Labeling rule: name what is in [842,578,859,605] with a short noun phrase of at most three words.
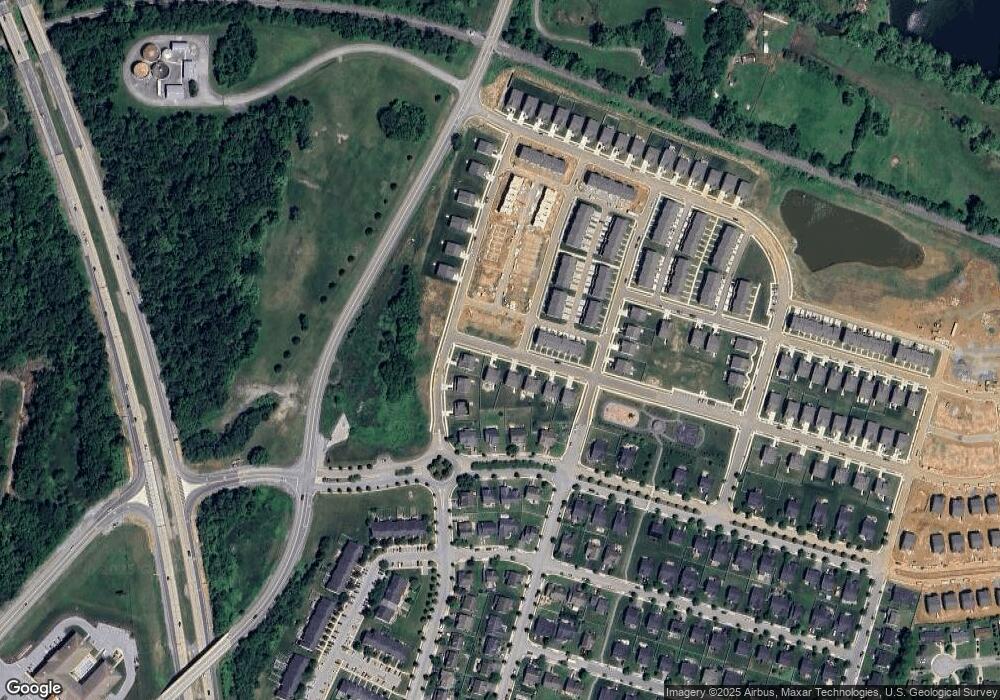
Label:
house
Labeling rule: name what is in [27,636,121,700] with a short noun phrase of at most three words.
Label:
building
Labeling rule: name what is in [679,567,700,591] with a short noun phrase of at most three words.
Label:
house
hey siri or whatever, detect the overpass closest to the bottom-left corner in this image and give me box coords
[155,632,234,700]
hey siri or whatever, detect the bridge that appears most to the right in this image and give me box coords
[478,21,506,62]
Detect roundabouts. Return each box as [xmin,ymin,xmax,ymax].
[415,443,466,493]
